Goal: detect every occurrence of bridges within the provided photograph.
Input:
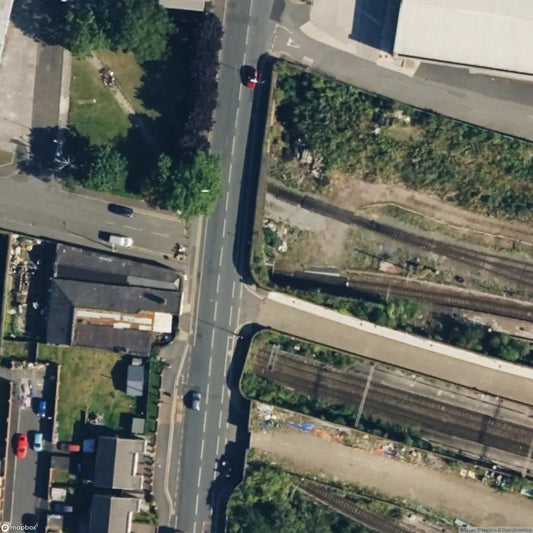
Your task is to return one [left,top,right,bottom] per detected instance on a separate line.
[268,291,533,407]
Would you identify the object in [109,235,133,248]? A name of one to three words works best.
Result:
vehicle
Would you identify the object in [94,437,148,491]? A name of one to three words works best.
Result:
house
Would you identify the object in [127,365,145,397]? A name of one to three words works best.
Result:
shed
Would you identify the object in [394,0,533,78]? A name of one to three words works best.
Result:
building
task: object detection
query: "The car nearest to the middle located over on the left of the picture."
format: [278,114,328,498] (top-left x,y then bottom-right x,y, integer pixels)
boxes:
[153,333,174,346]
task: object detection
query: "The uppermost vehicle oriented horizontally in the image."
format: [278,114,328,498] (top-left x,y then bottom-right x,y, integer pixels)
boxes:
[108,204,133,216]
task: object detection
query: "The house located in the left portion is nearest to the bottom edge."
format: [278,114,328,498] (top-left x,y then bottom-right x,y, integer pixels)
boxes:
[89,496,143,533]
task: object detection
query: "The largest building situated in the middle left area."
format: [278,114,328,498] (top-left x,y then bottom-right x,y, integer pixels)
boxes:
[47,243,185,355]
